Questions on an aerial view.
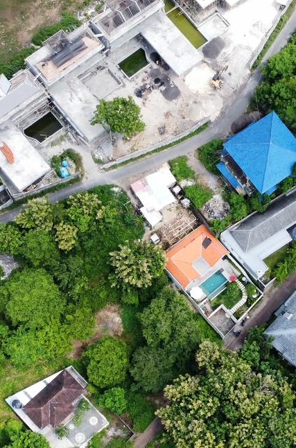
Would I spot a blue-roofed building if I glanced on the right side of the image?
Yes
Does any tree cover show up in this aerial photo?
Yes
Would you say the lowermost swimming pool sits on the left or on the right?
right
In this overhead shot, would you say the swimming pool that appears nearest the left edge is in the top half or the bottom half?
top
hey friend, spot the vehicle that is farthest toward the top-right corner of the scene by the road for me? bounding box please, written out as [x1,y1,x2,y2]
[206,70,230,99]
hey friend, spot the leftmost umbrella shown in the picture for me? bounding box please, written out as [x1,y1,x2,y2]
[190,286,204,301]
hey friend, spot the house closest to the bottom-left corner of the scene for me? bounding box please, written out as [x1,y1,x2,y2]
[6,367,88,441]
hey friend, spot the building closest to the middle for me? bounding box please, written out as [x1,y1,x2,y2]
[131,166,177,226]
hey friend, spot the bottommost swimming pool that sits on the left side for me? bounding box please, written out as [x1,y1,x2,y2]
[22,111,65,144]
